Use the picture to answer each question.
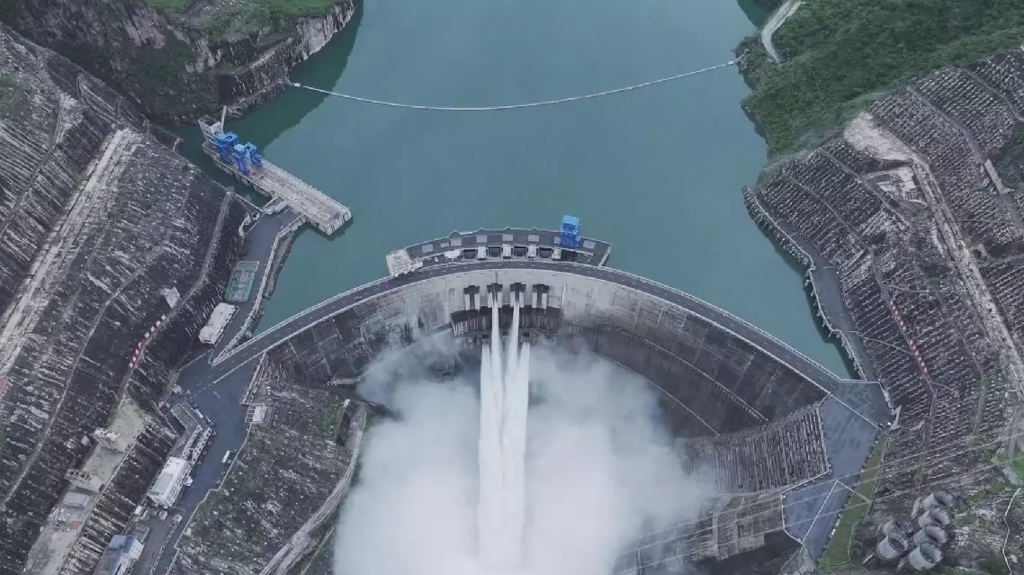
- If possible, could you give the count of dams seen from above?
1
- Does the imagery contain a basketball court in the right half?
No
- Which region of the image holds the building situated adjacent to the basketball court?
left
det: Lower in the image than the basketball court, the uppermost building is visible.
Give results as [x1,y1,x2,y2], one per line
[199,303,238,345]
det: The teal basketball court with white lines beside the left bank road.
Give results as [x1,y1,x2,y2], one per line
[225,261,258,301]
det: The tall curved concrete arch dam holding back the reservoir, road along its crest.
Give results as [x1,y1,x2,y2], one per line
[182,227,848,483]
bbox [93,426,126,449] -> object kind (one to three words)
building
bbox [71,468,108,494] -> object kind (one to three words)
building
